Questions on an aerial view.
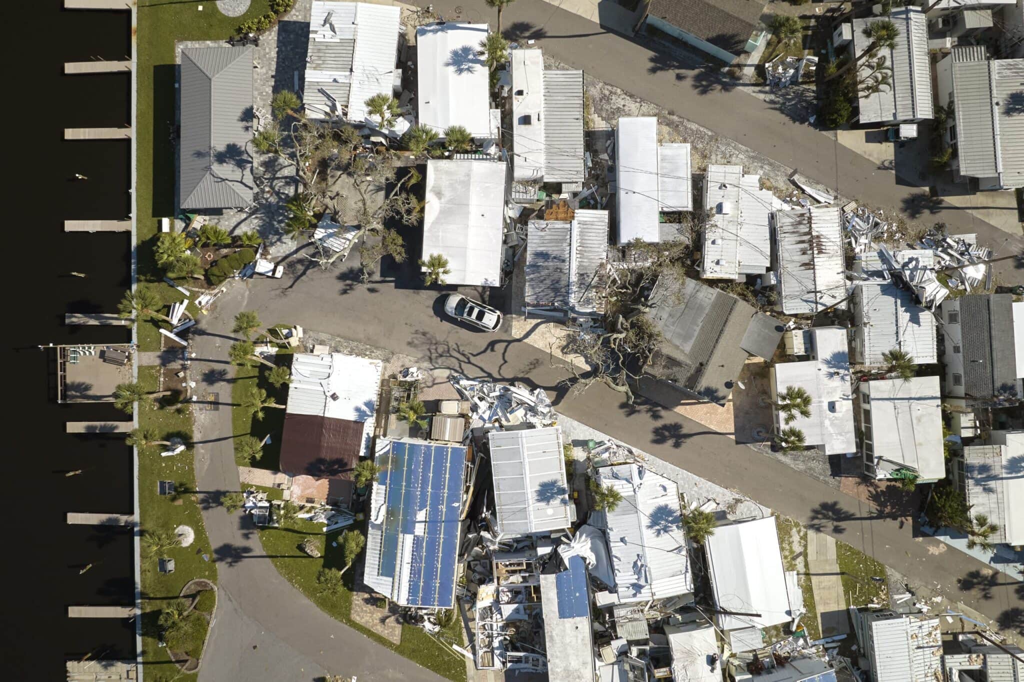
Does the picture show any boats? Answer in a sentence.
No, I can't see a single boat in this photo.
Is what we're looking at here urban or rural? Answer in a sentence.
From above, the setting appears urban.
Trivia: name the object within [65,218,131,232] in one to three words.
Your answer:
pier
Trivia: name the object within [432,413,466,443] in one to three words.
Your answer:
shed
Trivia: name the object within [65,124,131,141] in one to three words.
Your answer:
pier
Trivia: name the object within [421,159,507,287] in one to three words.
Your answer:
house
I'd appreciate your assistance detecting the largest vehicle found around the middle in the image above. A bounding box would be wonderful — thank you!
[440,292,507,335]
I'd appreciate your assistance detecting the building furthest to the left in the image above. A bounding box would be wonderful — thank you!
[180,46,254,210]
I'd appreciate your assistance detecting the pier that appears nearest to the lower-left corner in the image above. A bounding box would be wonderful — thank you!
[68,604,135,623]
